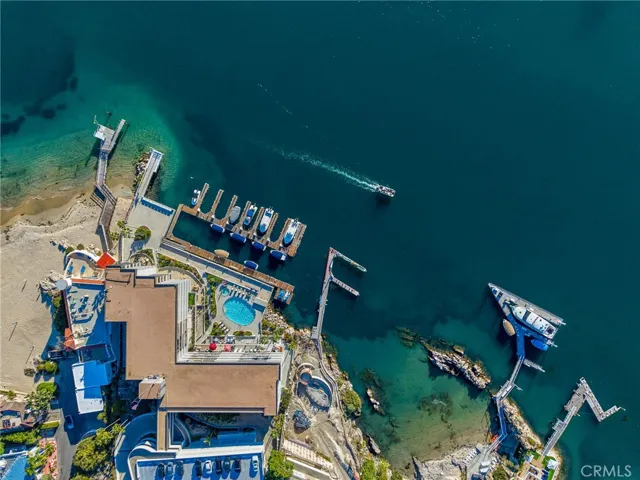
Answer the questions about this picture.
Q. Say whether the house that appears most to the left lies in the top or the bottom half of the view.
bottom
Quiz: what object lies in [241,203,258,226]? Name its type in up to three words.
boat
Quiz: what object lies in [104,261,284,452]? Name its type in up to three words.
building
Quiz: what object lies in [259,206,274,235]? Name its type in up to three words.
boat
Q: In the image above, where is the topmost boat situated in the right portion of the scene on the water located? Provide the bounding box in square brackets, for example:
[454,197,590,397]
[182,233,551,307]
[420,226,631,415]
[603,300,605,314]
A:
[376,182,396,195]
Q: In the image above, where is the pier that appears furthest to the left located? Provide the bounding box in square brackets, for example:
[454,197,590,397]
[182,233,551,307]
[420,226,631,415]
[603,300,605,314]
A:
[93,115,129,252]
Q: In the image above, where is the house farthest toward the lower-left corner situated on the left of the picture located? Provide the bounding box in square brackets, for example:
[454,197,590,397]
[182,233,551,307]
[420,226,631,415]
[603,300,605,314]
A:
[0,398,35,430]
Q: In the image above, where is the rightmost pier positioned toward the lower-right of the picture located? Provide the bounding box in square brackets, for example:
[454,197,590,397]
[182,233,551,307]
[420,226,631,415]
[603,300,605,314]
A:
[539,376,625,456]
